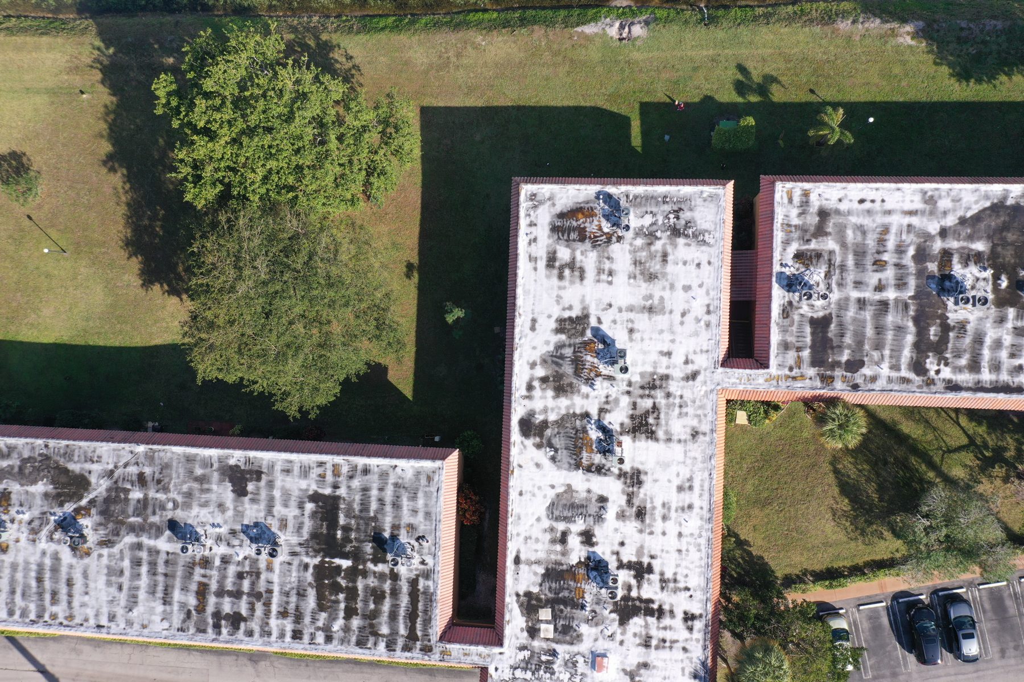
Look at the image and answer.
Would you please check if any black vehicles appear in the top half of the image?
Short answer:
No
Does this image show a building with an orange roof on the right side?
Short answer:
No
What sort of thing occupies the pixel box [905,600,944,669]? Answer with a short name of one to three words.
car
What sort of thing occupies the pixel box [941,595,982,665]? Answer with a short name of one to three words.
car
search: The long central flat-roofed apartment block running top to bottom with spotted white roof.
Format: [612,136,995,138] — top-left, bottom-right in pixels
[477,175,737,682]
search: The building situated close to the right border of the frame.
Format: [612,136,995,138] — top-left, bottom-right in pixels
[718,172,1024,413]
